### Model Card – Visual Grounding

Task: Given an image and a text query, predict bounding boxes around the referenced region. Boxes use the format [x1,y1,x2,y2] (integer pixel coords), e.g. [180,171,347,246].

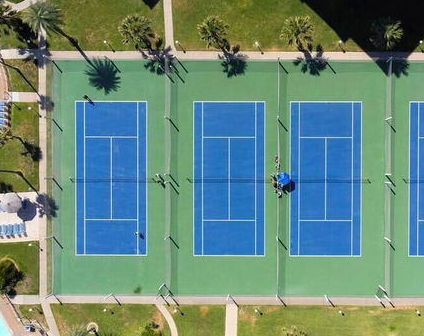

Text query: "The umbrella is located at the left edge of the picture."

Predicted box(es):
[1,192,22,212]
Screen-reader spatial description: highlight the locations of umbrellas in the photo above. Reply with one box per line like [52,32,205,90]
[1,192,22,212]
[278,172,289,185]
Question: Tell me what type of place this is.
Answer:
sports ground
